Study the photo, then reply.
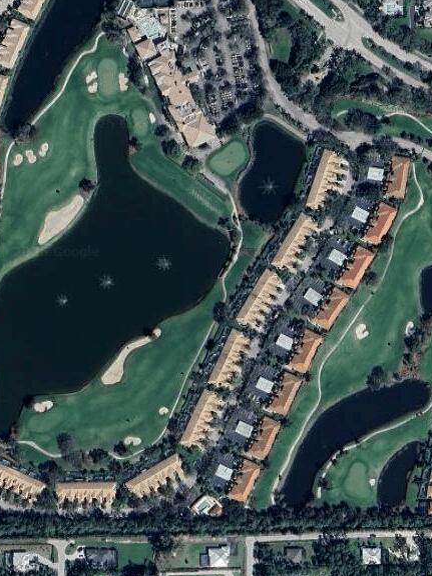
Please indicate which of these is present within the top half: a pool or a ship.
pool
